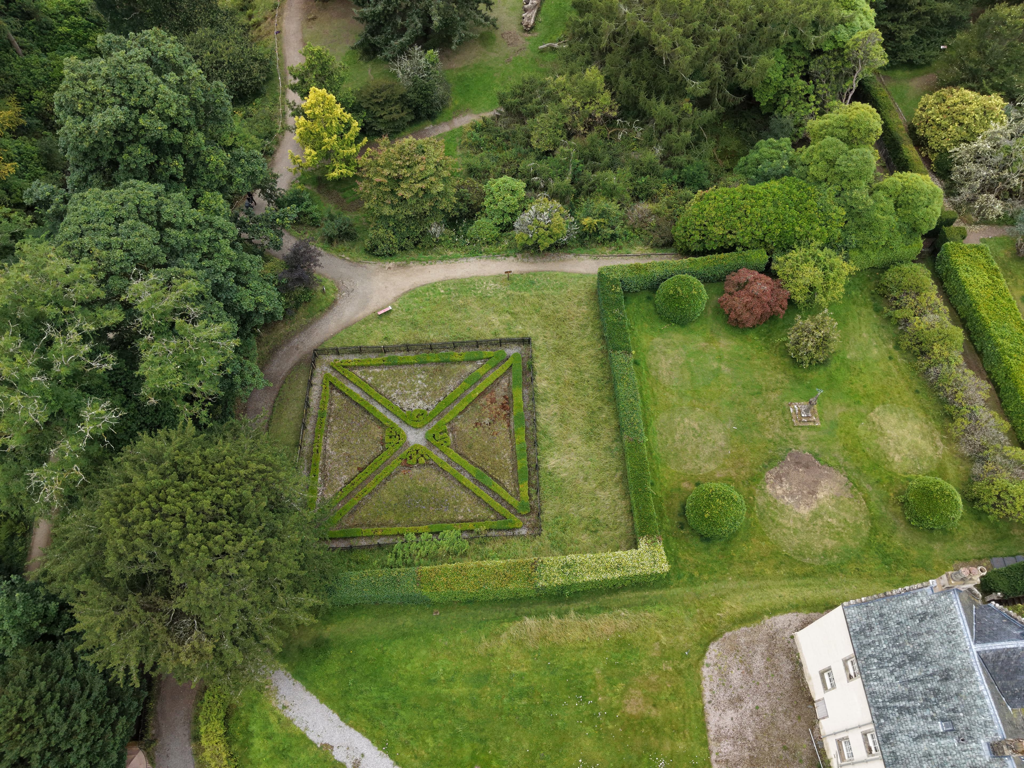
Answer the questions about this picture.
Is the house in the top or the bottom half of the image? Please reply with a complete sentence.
The house is in the bottom half of the image.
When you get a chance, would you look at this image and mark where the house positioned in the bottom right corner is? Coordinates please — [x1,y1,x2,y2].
[792,567,1024,768]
